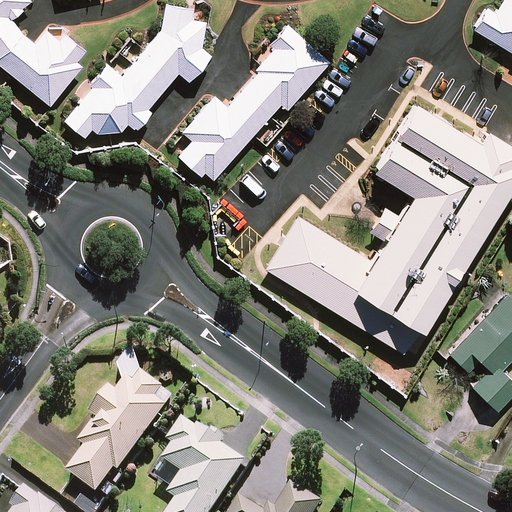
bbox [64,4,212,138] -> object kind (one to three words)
house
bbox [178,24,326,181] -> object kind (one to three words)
house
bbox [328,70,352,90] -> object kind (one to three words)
car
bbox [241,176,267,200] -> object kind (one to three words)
vehicle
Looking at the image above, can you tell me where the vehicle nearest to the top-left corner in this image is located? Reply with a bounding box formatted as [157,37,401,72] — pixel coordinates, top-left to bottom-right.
[26,209,48,230]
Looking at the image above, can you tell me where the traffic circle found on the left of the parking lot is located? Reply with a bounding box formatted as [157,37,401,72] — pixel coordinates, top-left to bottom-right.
[81,216,144,278]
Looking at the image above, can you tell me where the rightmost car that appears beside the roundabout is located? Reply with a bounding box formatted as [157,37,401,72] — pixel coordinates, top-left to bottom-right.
[73,264,96,284]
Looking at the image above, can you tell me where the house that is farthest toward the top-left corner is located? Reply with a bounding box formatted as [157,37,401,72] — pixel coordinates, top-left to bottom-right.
[0,0,86,106]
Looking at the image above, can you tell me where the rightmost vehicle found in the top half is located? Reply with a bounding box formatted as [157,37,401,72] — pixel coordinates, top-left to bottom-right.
[475,106,492,128]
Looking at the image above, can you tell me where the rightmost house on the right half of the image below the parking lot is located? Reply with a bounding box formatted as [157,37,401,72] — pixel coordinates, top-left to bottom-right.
[448,294,512,412]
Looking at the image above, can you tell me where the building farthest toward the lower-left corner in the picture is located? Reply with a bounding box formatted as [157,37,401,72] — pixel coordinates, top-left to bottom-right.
[3,482,66,512]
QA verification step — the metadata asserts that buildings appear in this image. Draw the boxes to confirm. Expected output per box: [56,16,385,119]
[471,0,512,57]
[71,492,99,512]
[448,294,512,412]
[159,414,246,512]
[358,104,512,337]
[178,24,326,181]
[0,0,86,106]
[66,368,166,490]
[3,482,66,512]
[226,480,322,512]
[64,4,212,138]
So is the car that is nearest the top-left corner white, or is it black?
white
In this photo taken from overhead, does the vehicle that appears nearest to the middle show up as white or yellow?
white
